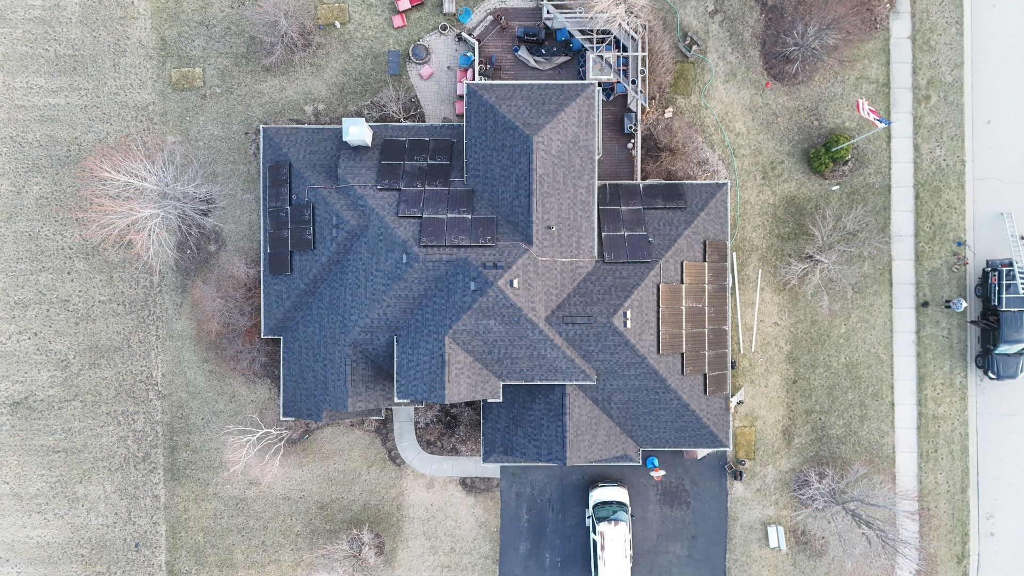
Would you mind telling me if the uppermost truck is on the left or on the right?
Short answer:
right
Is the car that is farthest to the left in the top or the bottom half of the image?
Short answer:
bottom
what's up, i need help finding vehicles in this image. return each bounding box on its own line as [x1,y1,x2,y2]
[960,251,1024,379]
[583,480,635,576]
